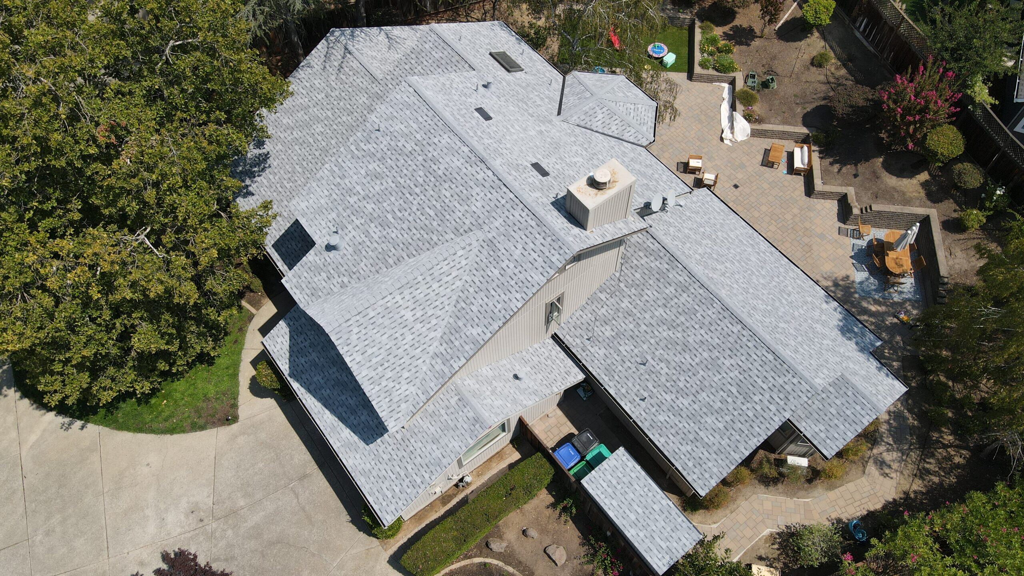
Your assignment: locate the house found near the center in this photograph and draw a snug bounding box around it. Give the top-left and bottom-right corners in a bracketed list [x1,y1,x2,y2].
[215,21,910,530]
